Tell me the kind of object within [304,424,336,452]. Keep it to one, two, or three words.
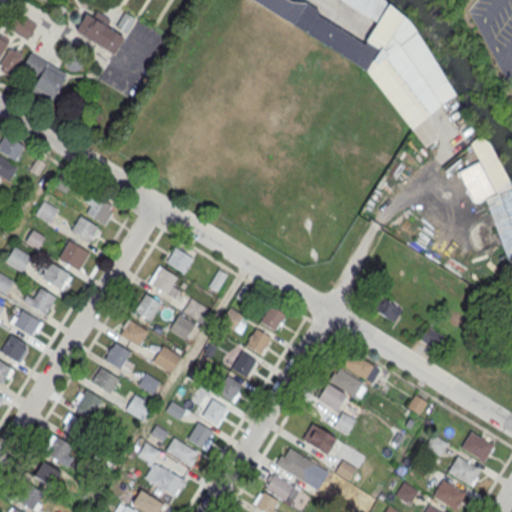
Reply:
house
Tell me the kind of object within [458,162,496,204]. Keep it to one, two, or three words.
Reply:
building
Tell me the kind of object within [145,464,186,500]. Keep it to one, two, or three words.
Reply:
house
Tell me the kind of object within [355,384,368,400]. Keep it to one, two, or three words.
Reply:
vehicle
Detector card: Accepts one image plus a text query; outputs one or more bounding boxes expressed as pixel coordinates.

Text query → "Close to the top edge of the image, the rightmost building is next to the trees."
[367,2,458,128]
